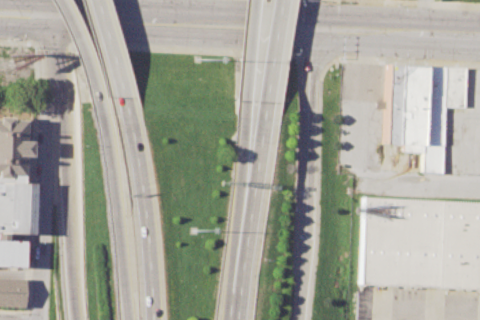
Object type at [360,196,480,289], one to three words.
building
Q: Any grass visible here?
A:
Yes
